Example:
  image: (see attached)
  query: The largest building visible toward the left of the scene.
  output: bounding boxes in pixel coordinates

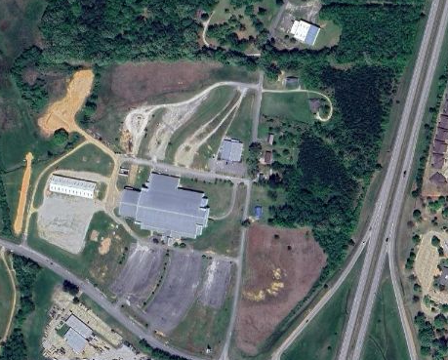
[119,173,208,238]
